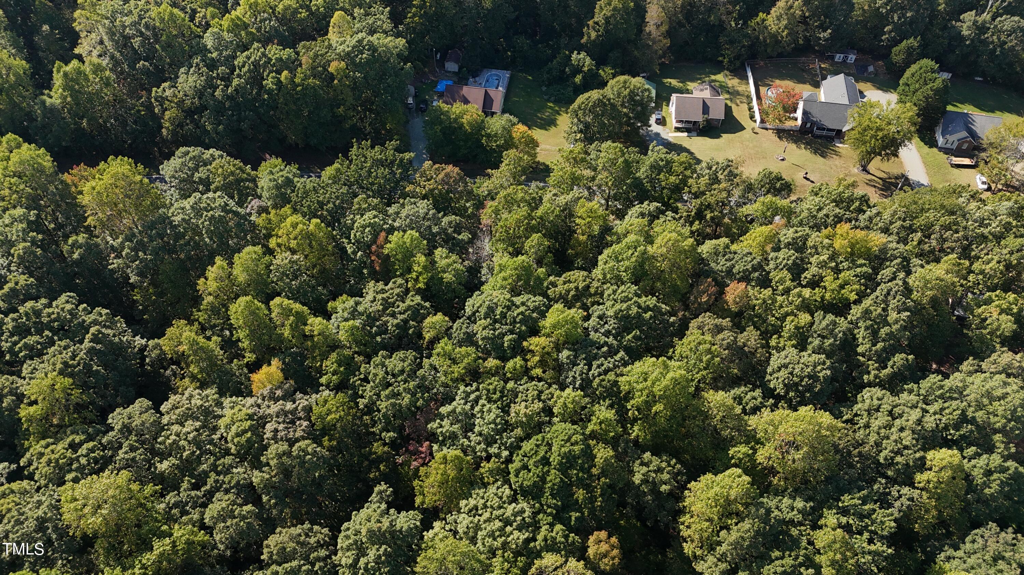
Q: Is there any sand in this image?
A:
No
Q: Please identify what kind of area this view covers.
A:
forest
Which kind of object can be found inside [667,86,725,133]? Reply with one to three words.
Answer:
house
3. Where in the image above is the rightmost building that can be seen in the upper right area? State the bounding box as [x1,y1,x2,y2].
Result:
[931,112,1004,153]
